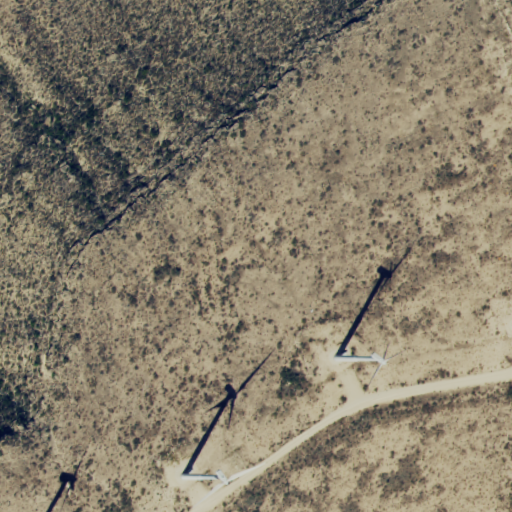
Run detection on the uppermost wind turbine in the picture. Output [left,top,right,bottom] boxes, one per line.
[333,348,403,398]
